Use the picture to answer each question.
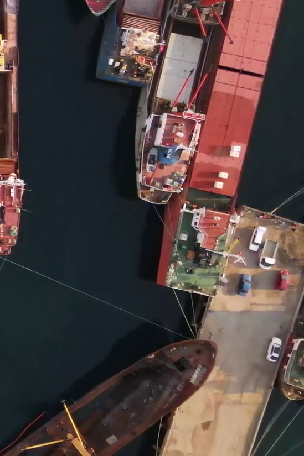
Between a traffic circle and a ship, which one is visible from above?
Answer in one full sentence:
I can see a ship in this picture.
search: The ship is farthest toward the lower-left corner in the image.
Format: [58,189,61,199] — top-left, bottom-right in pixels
[0,341,221,456]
